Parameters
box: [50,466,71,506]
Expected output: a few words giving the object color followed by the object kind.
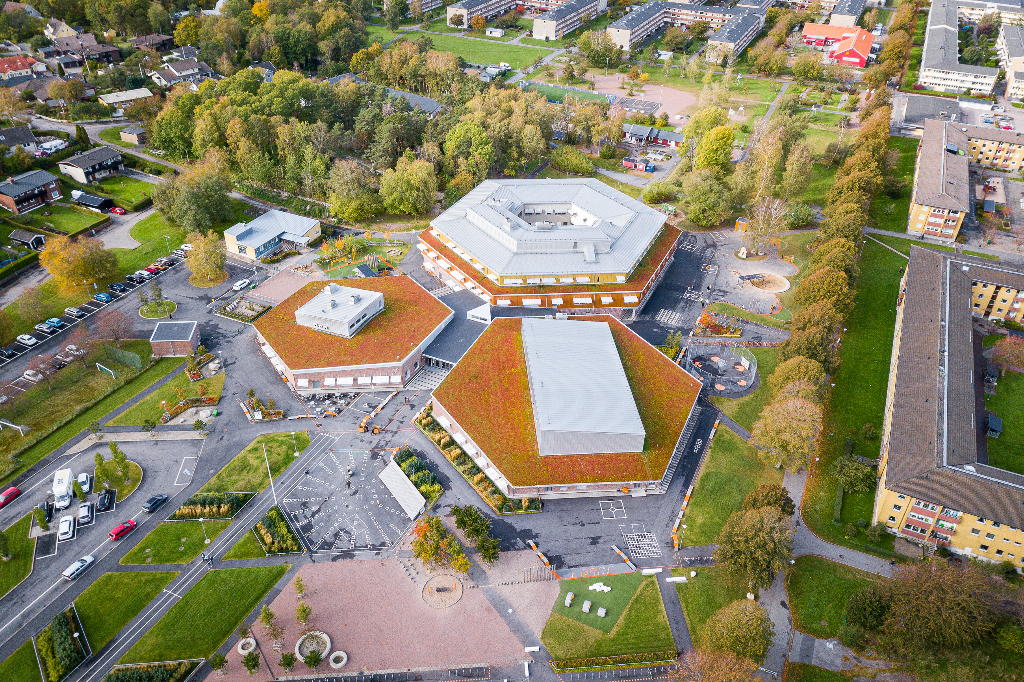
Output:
white truck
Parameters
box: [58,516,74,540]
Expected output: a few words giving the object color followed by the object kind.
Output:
white car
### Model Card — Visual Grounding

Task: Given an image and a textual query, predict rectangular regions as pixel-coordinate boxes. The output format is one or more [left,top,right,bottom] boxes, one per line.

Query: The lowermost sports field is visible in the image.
[552,571,643,633]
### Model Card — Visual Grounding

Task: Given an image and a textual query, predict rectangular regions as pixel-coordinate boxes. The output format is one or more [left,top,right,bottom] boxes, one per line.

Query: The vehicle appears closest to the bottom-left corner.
[59,556,95,582]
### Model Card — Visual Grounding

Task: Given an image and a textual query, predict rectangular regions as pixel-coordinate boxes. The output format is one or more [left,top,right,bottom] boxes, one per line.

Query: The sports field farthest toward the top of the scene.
[558,69,697,126]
